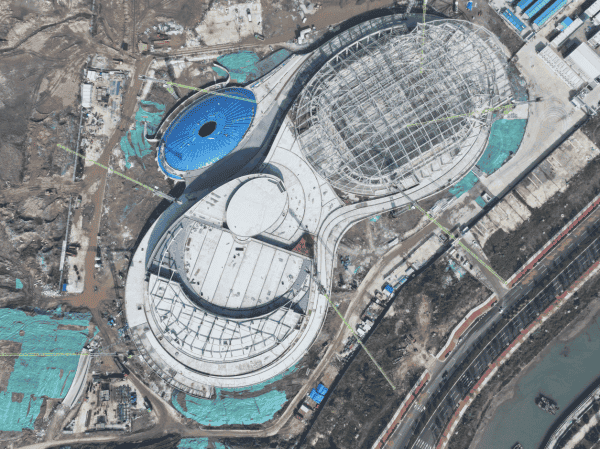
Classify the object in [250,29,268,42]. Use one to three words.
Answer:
vehicle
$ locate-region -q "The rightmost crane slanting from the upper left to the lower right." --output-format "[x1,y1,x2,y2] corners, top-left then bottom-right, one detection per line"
[391,183,507,285]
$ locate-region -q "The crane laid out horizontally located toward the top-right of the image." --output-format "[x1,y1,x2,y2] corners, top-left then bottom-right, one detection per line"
[407,96,539,128]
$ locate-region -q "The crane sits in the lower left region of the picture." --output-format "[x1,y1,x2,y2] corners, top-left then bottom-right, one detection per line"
[0,340,140,360]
